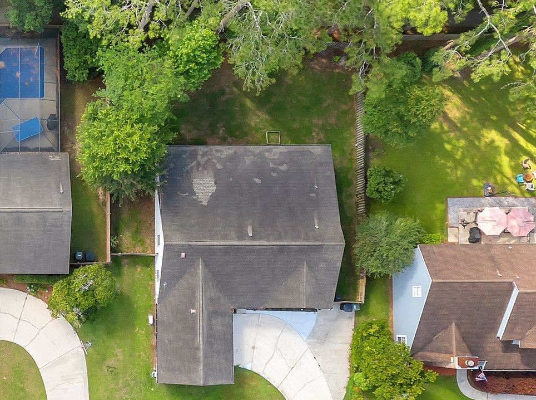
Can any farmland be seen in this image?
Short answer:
No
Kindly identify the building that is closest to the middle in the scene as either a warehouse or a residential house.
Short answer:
residential house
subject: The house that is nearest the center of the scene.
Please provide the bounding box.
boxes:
[155,144,350,386]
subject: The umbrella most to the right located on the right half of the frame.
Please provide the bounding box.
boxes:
[506,208,534,235]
